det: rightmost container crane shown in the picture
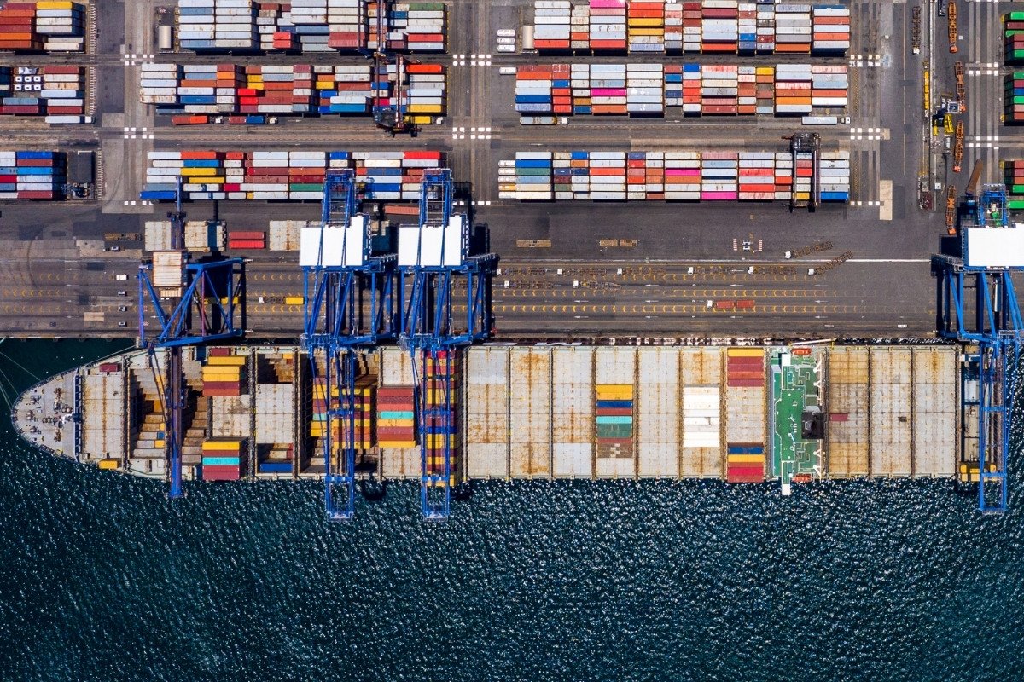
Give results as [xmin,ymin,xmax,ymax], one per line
[930,183,1024,516]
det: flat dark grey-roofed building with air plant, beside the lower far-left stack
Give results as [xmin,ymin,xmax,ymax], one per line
[65,152,100,202]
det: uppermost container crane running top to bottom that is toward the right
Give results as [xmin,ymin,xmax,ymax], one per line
[787,132,820,215]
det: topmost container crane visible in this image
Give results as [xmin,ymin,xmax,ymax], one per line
[357,0,398,65]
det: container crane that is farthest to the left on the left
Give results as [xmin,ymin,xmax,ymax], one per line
[127,170,257,500]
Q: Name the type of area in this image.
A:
port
